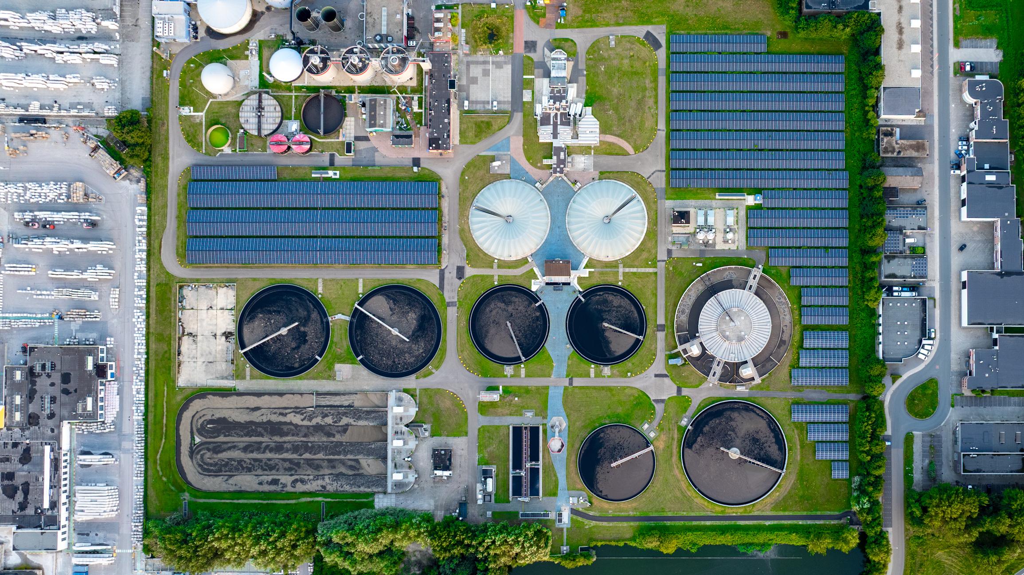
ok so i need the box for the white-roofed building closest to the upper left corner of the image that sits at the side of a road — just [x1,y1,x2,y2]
[151,0,191,43]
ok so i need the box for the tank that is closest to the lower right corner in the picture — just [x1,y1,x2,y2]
[681,400,789,508]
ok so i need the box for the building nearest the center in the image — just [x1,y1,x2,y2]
[527,256,594,291]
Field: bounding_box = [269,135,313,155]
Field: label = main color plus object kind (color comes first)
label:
pink silo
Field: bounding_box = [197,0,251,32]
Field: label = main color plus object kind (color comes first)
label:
white storage tank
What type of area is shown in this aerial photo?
industrial area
